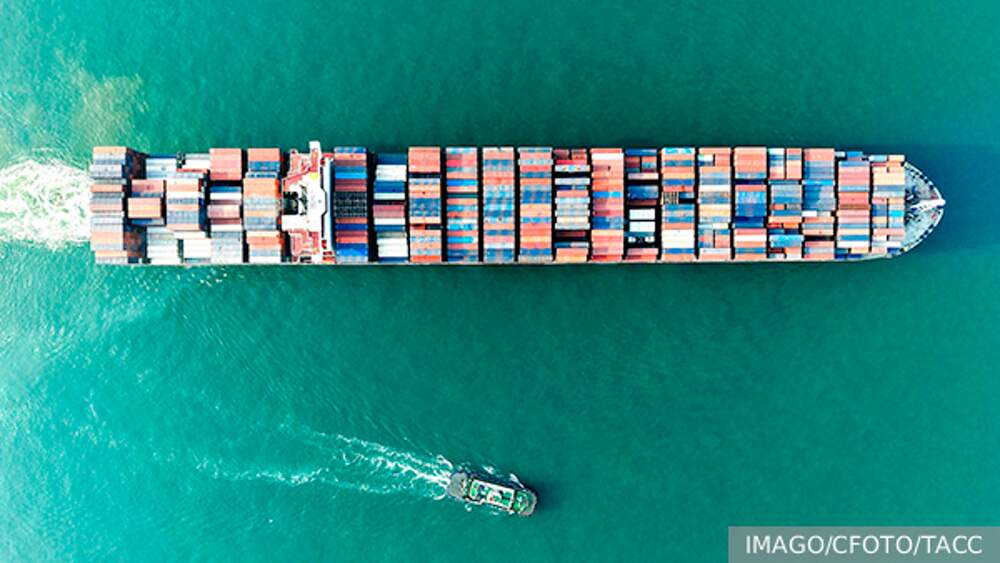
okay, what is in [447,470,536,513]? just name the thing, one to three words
boat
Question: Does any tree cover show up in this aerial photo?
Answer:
No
